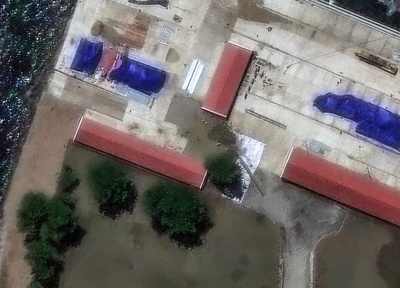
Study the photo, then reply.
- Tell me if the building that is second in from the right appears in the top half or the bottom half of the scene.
top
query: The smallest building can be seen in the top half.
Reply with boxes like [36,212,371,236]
[202,42,253,118]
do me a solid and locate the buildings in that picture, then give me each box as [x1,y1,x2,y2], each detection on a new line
[202,42,253,118]
[281,147,400,226]
[75,117,206,188]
